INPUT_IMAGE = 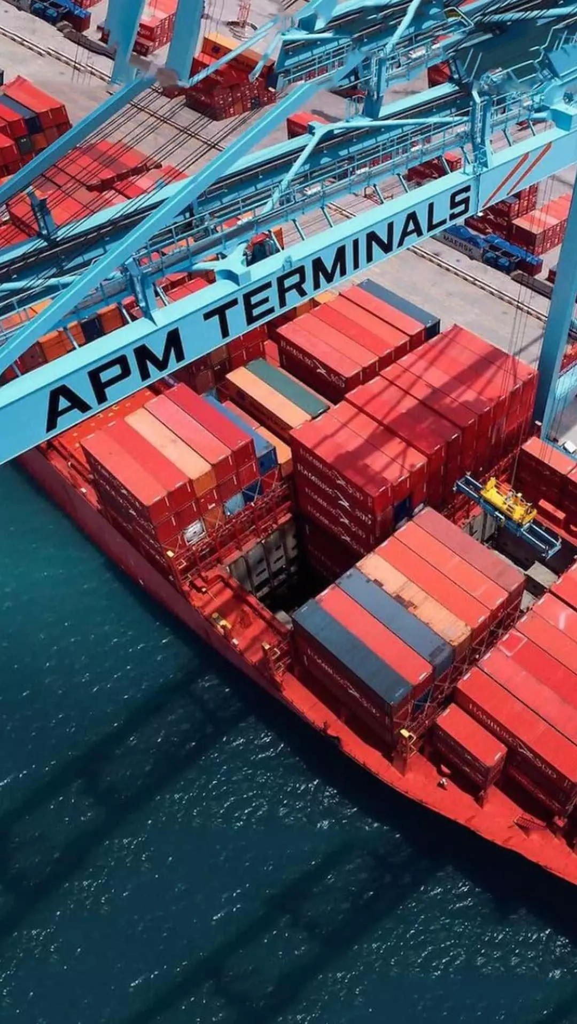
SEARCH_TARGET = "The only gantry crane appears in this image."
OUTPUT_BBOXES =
[0,0,577,465]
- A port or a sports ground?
port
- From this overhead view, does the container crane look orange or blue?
blue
